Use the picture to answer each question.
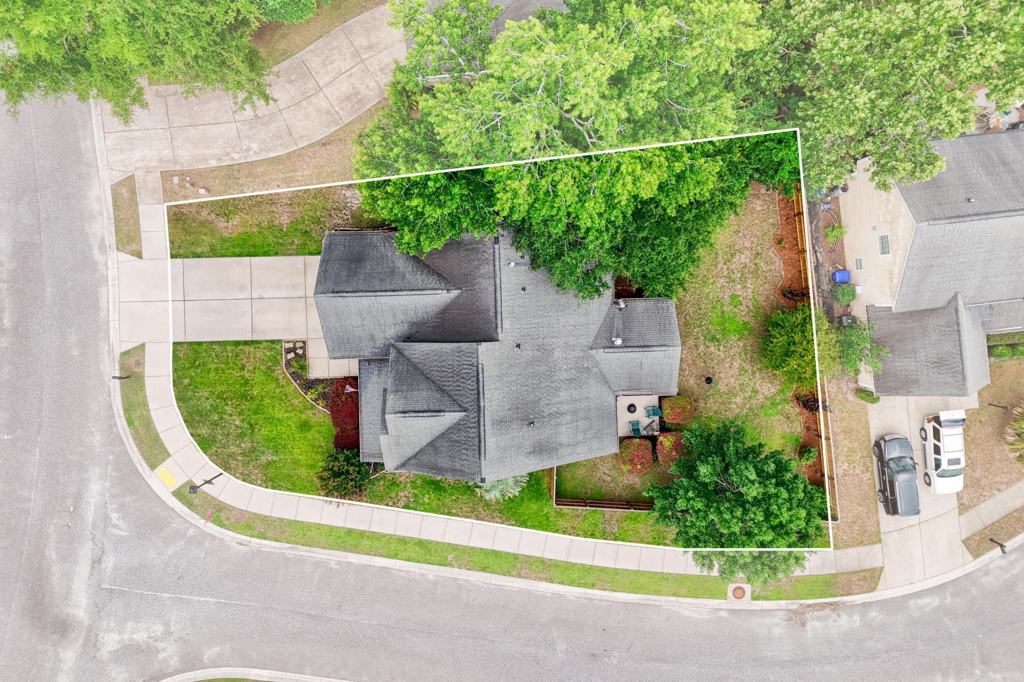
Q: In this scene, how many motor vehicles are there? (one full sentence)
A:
I count 2 motor vehicles.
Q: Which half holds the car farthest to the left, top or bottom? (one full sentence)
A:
It is in the bottom half that the car farthest to the left appears.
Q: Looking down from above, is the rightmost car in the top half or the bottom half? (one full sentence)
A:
The rightmost car sits in the bottom half of the picture.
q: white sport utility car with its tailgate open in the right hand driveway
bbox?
[918,411,963,494]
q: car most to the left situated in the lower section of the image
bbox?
[874,432,925,519]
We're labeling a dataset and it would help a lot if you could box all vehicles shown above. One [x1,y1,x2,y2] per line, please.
[874,432,925,519]
[918,411,963,494]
